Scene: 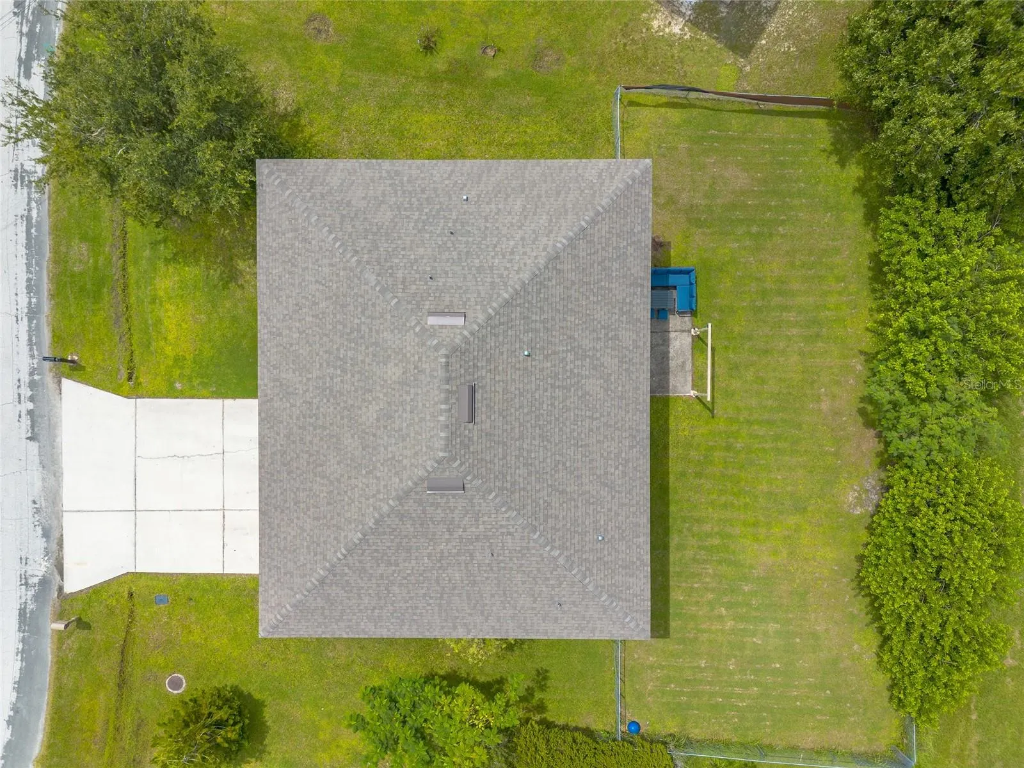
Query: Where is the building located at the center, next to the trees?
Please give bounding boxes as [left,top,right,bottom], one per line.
[255,158,653,640]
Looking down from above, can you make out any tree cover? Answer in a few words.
Yes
